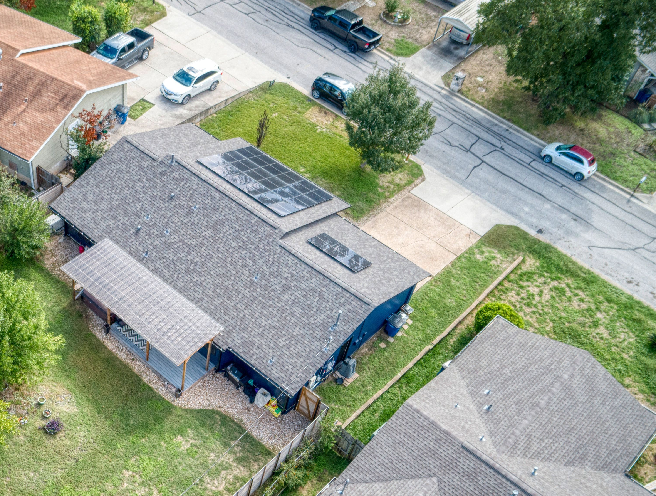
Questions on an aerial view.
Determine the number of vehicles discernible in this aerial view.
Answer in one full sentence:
In total, 6 vehicles can be seen.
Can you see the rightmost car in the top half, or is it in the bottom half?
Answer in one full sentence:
You can find the rightmost car in the top half.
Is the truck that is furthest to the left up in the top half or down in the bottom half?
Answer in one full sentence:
It is in the top half that the truck that is furthest to the left appears.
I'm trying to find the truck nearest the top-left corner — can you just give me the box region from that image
[86,29,160,70]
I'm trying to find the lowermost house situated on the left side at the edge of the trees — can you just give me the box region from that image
[46,121,432,417]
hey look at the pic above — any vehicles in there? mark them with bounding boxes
[541,141,608,184]
[156,57,228,107]
[446,16,482,46]
[308,5,387,55]
[309,67,365,116]
[86,29,160,70]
